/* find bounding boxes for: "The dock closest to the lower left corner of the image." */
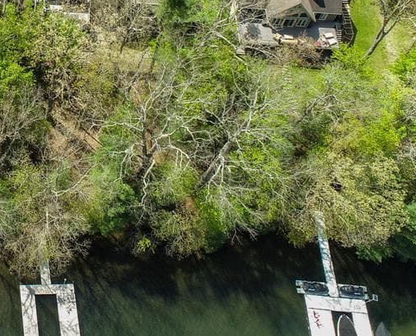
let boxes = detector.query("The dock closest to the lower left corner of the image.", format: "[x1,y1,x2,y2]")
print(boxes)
[19,234,81,336]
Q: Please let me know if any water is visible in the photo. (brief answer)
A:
Yes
